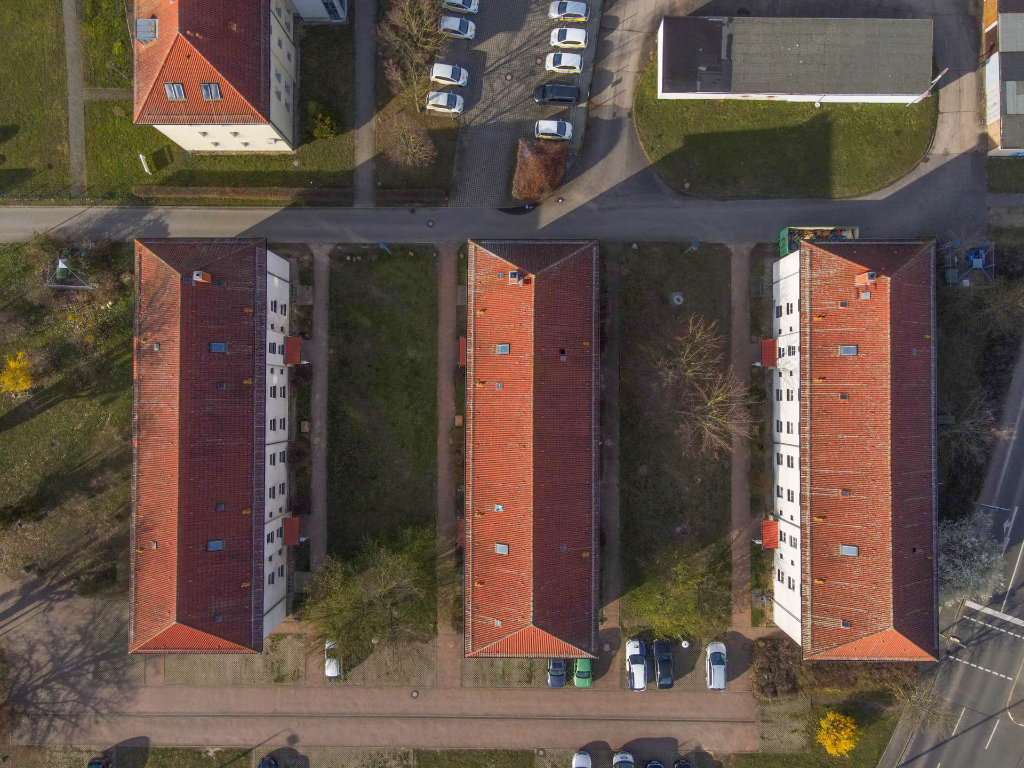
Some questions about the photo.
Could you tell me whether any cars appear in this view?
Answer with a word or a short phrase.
Yes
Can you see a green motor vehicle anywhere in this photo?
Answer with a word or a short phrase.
Yes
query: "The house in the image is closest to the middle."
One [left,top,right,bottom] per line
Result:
[457,238,601,659]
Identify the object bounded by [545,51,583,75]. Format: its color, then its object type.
white car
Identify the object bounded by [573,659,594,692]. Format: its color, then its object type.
green car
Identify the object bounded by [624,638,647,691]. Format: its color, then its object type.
white car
